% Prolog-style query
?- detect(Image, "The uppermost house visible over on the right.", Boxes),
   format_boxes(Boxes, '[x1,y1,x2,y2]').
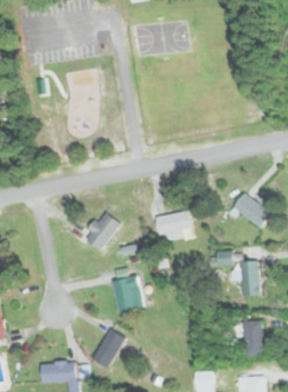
[226,192,267,225]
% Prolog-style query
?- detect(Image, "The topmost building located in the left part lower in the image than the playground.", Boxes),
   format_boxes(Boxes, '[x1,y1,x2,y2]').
[87,212,122,250]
